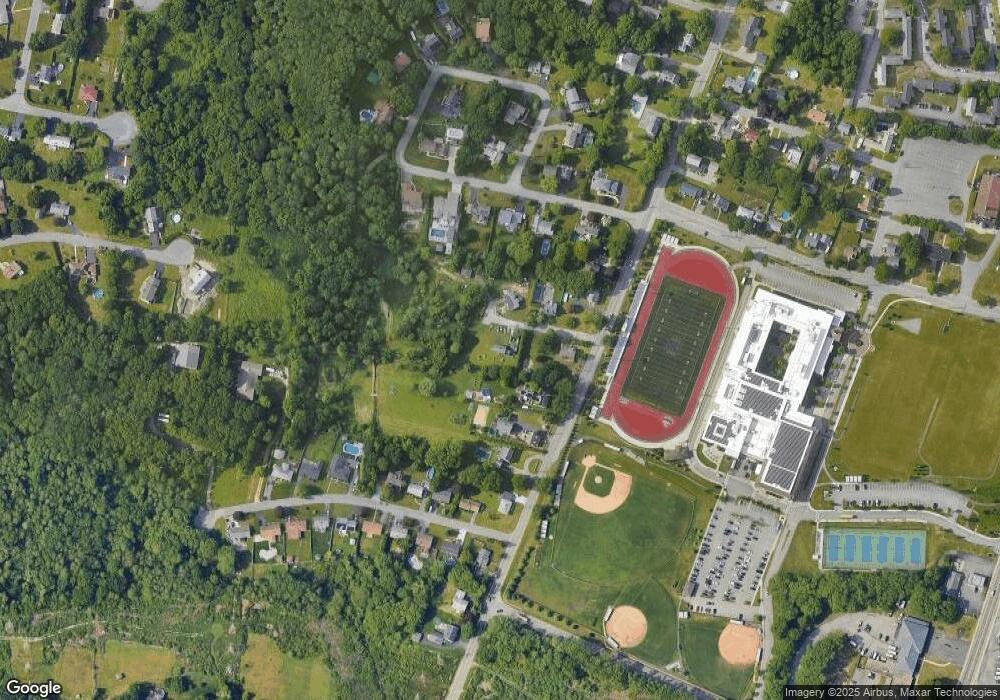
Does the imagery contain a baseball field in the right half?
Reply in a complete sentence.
Yes, the scene does show a baseball field in the right half.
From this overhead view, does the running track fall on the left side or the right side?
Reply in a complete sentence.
You can find the running track on the right side of the picture.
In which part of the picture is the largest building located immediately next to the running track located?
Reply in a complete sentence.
The largest building located immediately next to the running track is located in the right region of the scene.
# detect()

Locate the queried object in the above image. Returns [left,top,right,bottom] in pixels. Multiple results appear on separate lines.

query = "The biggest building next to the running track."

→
[702,288,846,492]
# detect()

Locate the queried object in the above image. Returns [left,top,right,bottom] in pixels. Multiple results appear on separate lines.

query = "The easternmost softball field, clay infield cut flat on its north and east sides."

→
[681,619,760,700]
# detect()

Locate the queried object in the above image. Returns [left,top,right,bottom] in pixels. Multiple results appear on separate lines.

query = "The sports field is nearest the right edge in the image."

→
[822,300,1000,521]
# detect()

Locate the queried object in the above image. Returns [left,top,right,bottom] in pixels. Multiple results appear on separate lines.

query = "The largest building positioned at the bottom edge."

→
[893,614,931,676]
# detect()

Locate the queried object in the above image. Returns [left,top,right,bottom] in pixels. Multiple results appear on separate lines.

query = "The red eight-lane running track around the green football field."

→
[603,242,735,442]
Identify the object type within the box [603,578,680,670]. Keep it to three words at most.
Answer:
baseball field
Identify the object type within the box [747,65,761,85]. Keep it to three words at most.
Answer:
swimming pool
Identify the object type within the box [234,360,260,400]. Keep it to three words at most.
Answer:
house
